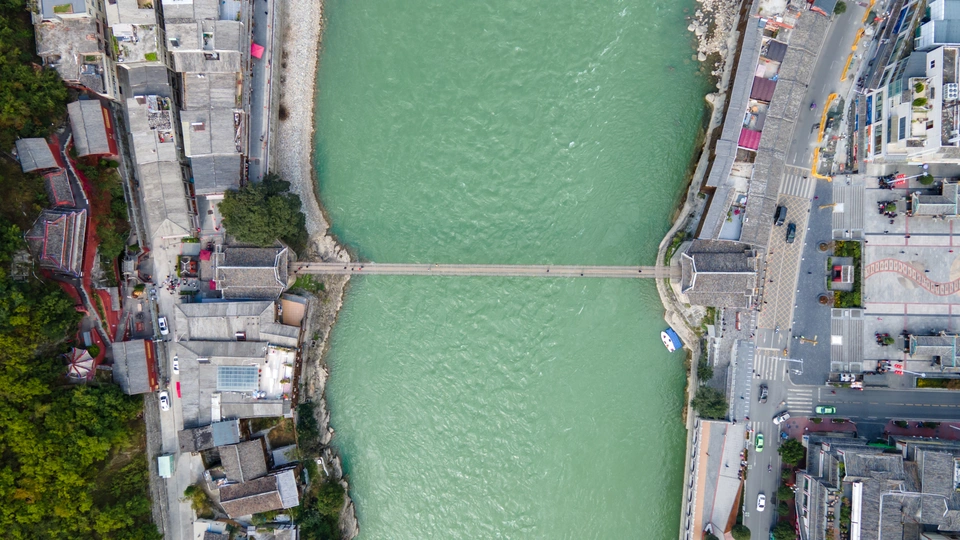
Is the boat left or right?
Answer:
right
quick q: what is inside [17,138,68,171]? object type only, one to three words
building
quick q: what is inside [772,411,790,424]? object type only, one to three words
vehicle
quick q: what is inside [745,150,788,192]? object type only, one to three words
house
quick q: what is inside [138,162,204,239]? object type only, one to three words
house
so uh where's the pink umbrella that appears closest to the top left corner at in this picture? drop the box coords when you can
[249,43,264,58]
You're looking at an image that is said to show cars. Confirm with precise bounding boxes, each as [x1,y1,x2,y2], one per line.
[756,492,765,512]
[774,204,786,224]
[160,391,170,410]
[839,374,856,382]
[758,384,769,403]
[785,223,796,243]
[149,285,158,301]
[815,405,835,414]
[755,433,764,452]
[159,316,170,335]
[772,411,790,424]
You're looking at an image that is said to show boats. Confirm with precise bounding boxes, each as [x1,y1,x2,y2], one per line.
[663,329,683,352]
